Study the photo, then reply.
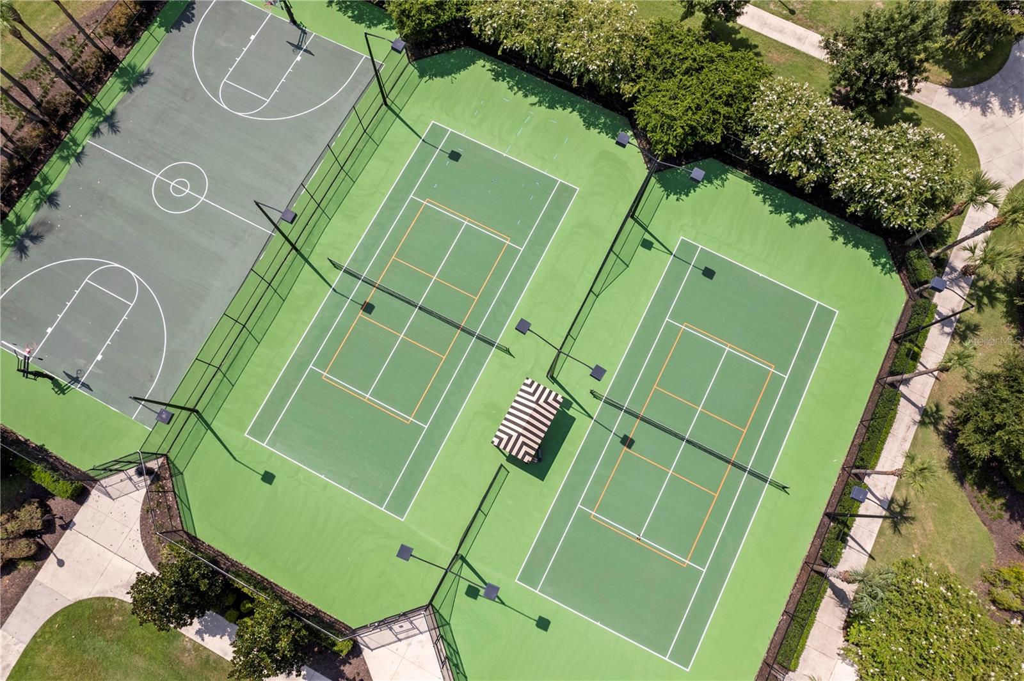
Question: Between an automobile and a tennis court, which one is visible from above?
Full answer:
The one in the frame is a tennis court.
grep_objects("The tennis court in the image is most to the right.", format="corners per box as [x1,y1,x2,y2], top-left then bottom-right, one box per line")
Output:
[433,158,909,681]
